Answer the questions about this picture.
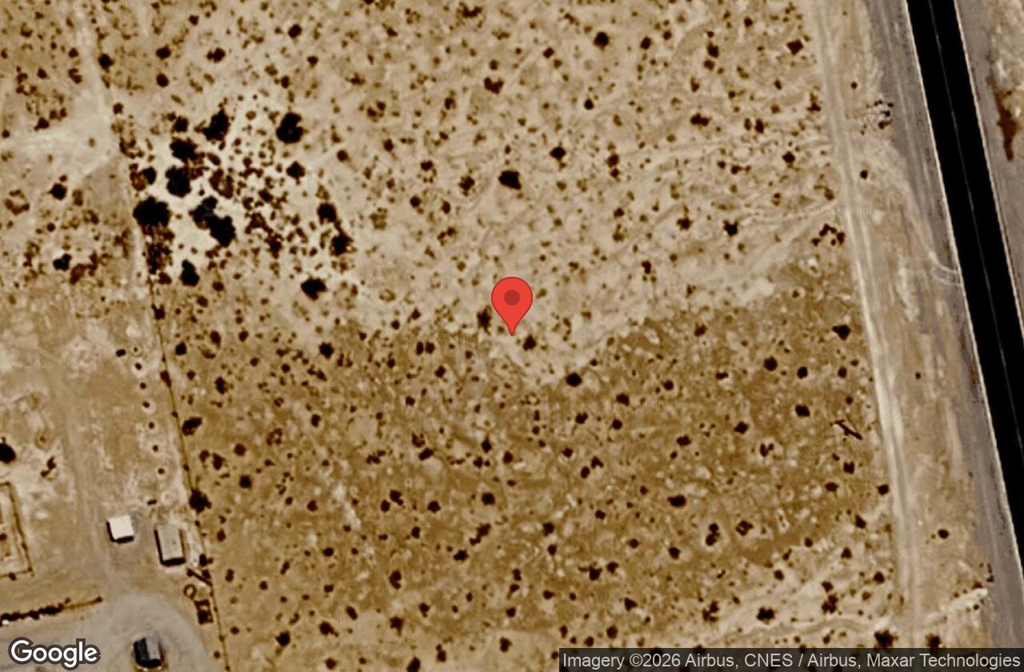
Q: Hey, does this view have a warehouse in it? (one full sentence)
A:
No, there's no warehouse here.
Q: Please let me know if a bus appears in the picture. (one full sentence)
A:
No, I find no bus anywhere in the image.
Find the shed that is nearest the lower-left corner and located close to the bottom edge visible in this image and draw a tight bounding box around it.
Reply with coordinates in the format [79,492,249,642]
[133,637,165,664]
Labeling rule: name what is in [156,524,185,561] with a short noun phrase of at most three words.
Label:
shed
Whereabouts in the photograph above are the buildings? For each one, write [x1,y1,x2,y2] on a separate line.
[156,524,185,561]
[133,637,165,664]
[107,515,134,540]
